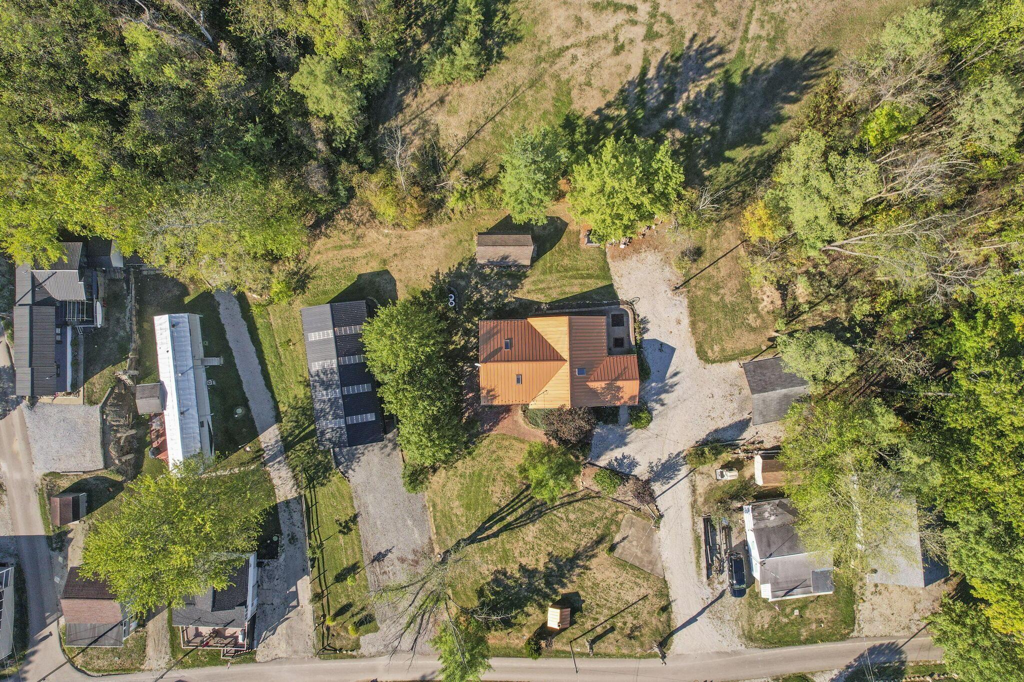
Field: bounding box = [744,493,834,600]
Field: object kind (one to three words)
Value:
house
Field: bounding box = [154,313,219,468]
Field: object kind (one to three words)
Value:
house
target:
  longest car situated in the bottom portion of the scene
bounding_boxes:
[725,549,750,598]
